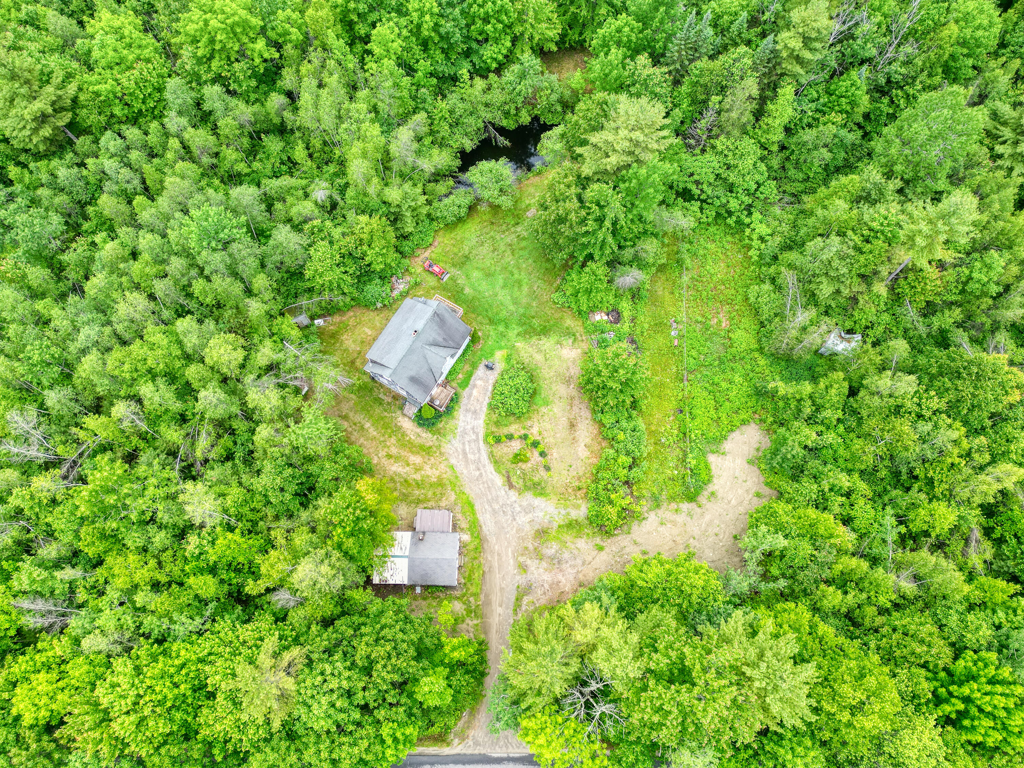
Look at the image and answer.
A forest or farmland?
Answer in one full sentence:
It's a forest.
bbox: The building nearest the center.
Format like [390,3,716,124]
[362,294,473,421]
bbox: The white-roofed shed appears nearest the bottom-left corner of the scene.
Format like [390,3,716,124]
[370,511,468,587]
